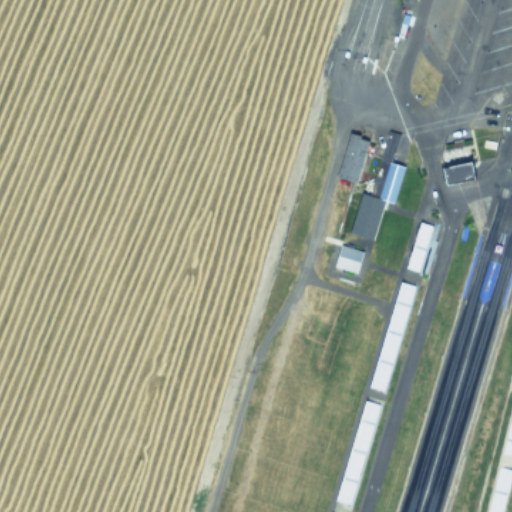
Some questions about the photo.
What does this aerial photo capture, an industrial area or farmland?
farmland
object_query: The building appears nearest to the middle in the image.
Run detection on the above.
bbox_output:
[336,246,365,274]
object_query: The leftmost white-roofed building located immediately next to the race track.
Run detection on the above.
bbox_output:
[338,401,382,507]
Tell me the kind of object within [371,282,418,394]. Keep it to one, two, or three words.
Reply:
hangar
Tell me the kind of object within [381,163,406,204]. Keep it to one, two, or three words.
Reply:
building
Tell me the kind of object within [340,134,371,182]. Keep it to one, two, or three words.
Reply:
shed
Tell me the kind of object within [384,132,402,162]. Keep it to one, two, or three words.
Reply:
building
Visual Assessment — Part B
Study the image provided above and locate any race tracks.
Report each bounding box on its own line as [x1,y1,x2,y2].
[402,186,512,512]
